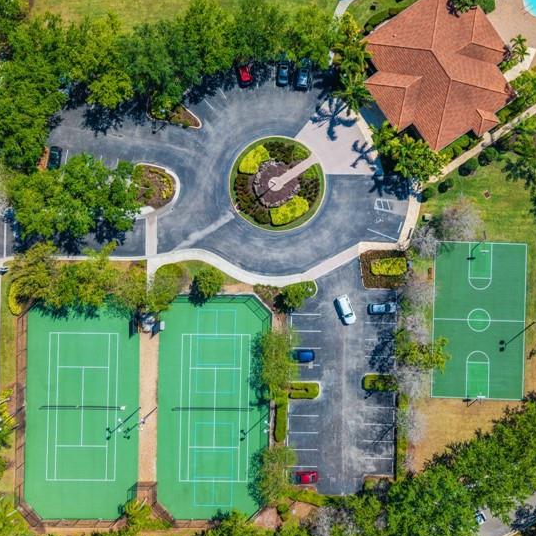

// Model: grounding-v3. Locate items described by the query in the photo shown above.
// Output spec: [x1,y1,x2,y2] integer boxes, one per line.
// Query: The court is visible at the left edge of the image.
[24,296,140,520]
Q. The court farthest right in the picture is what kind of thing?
basketball court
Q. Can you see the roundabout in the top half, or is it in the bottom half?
top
